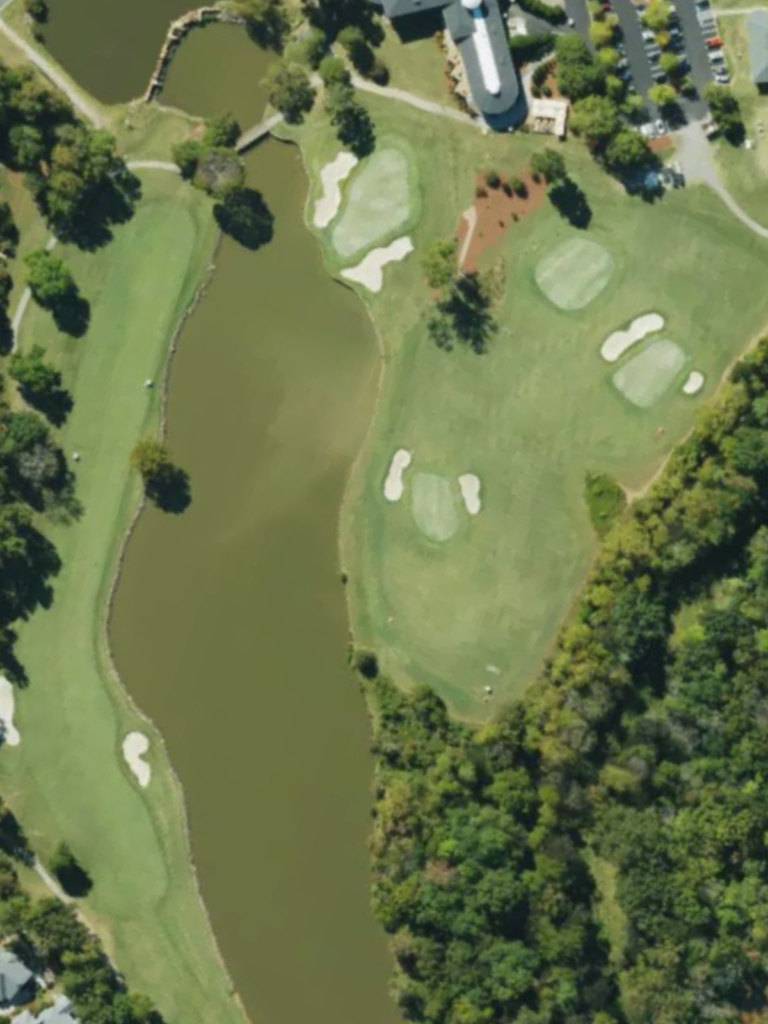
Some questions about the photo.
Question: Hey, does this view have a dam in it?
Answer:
Yes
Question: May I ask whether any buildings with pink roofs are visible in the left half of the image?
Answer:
No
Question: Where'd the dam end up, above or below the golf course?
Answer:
above it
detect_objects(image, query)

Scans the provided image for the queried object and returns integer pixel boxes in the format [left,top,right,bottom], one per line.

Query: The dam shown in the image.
[145,5,221,103]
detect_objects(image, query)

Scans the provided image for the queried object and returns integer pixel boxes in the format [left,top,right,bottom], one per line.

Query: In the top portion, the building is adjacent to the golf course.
[361,0,520,113]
